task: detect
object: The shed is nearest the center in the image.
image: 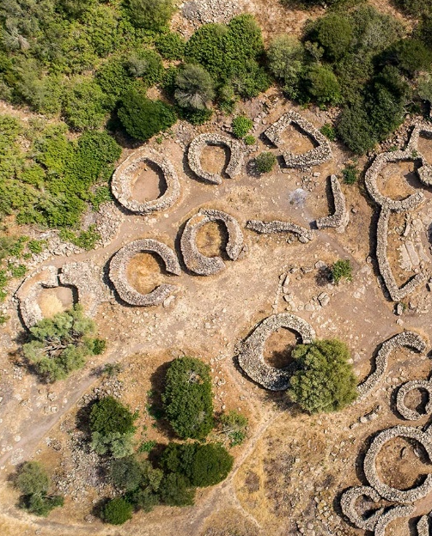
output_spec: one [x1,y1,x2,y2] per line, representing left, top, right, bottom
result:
[182,207,247,276]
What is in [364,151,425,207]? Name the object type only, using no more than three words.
shed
